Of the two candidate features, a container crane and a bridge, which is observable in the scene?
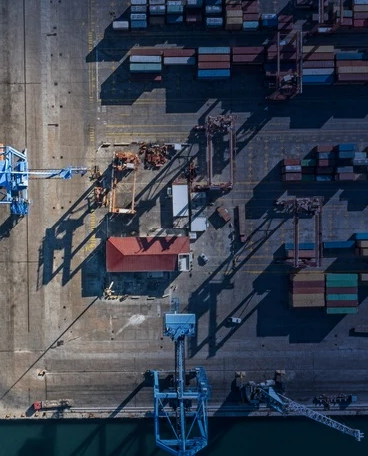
container crane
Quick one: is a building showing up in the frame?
Yes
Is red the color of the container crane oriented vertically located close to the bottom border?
No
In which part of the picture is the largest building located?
center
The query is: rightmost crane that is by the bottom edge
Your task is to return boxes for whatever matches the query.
[236,371,366,440]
